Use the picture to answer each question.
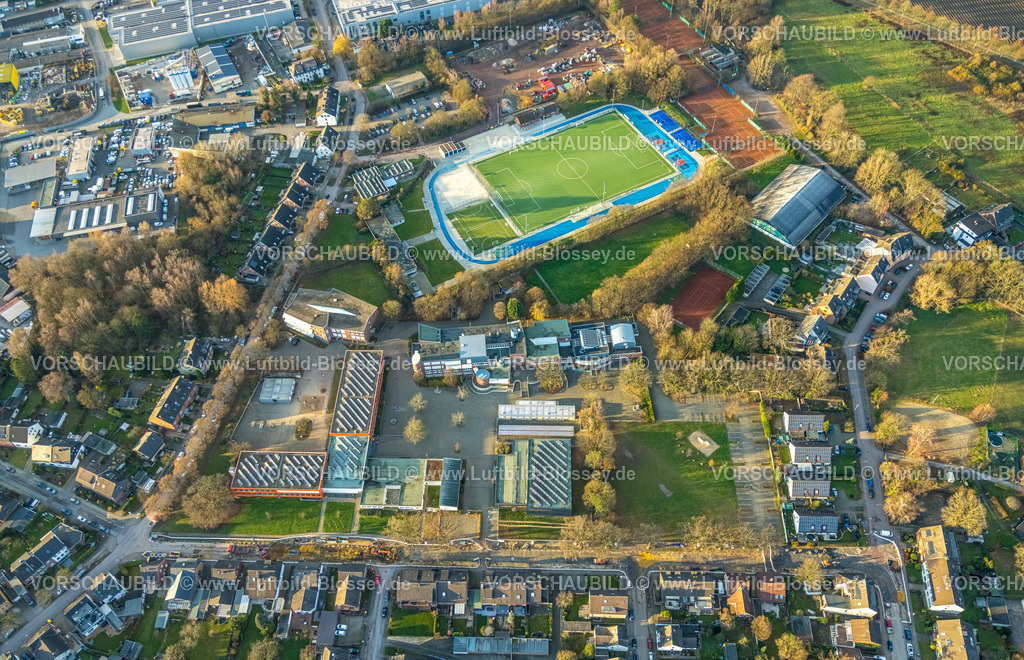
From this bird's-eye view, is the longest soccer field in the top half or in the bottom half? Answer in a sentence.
The longest soccer field is in the top half of the image.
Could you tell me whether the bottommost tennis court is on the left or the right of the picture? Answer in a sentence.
The bottommost tennis court is on the right side of the image.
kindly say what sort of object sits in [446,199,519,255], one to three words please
sports field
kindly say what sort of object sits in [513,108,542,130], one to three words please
building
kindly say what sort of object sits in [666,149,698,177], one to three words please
basketball court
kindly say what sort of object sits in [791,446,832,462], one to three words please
solar array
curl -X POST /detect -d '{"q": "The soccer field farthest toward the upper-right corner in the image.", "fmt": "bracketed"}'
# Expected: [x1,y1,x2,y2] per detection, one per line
[472,111,675,235]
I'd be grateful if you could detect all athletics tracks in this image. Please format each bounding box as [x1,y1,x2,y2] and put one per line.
[428,103,690,265]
